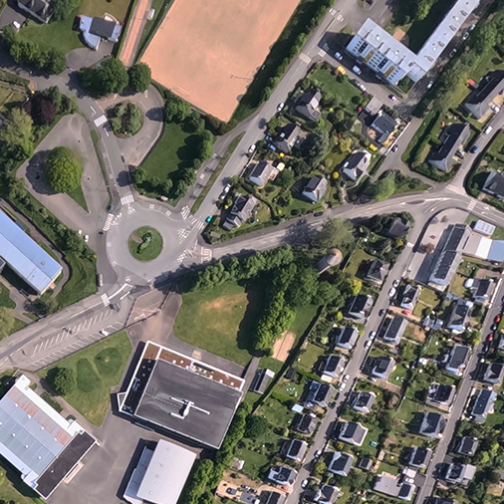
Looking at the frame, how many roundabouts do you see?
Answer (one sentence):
The count comes to 1 roundabout.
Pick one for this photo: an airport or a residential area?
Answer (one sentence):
This image shows a residential area.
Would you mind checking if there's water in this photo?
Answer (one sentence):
No, there is no water in the image.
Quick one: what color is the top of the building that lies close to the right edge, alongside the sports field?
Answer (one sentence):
The color of the roof on the building that lies close to the right edge, alongside the sports field is white.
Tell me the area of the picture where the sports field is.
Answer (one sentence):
The sports field sits in the top section of the image.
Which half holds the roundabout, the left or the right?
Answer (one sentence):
It is on the left.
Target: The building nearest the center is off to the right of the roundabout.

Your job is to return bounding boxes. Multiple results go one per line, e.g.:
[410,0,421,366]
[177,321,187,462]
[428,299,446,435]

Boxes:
[226,196,257,232]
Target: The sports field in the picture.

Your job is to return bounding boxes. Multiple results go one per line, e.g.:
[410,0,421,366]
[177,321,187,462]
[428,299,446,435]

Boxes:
[136,0,298,119]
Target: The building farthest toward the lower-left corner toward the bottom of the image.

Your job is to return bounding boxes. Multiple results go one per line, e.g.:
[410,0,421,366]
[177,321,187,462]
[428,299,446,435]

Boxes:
[0,374,96,499]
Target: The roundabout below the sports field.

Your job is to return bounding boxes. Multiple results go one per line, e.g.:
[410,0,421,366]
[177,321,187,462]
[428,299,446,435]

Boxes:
[106,200,195,290]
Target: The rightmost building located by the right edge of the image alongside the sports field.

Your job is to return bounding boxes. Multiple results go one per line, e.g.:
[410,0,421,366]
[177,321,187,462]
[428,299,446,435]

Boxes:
[352,0,479,93]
